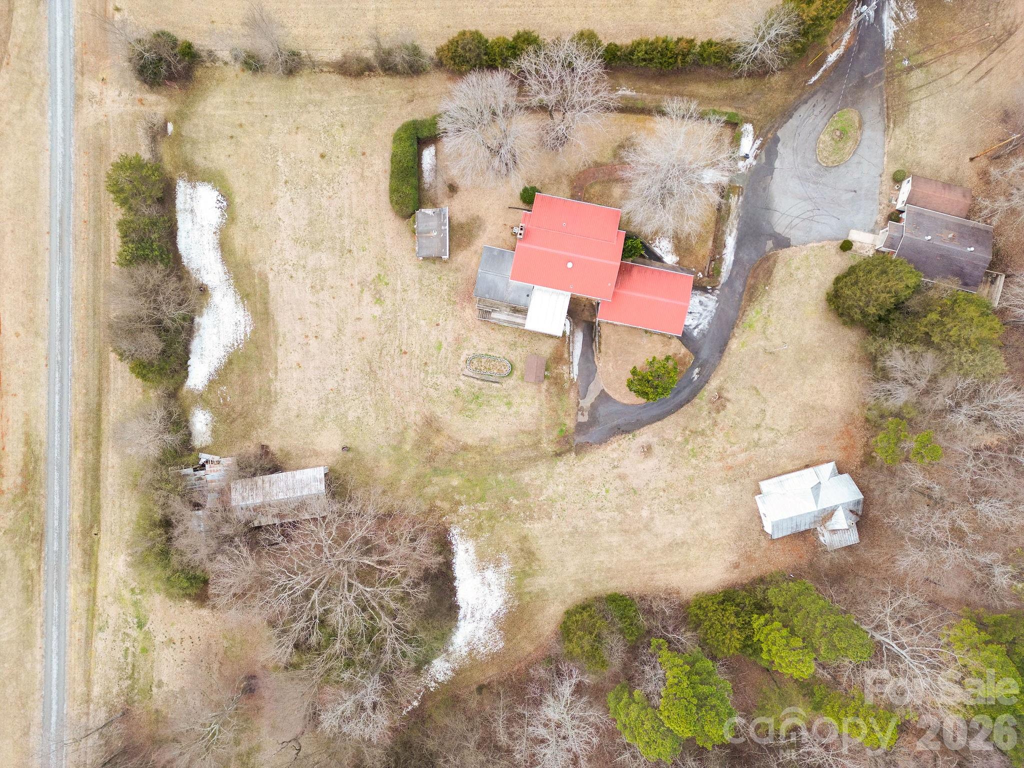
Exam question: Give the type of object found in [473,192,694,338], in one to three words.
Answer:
house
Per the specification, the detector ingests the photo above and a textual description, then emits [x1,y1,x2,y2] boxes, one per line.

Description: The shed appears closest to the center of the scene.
[524,354,546,383]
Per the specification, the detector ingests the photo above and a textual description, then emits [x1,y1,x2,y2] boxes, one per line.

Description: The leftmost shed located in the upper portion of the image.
[415,206,449,259]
